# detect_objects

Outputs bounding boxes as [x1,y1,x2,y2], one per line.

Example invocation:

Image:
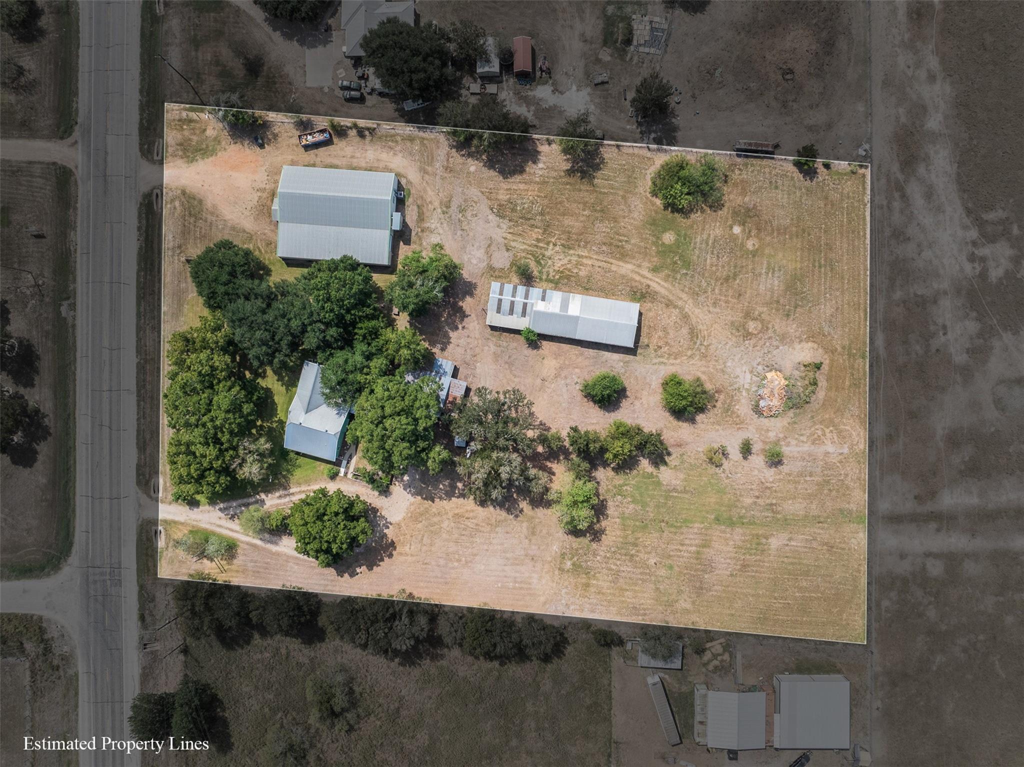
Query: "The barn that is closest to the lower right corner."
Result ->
[772,672,851,749]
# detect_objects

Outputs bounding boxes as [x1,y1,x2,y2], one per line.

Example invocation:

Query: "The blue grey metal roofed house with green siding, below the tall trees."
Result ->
[284,360,361,462]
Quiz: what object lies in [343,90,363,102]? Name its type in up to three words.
vehicle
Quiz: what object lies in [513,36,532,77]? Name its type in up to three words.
shed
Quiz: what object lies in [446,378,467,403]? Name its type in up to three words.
shed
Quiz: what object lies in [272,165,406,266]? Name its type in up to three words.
barn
